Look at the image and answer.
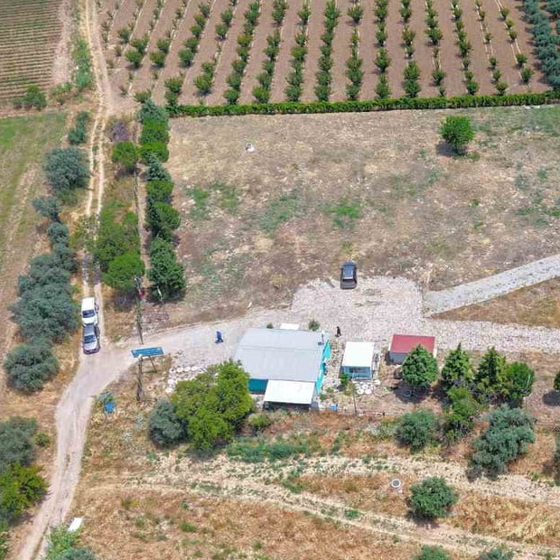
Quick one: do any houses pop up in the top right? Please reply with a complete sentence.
No, the scene shows no house in the top right.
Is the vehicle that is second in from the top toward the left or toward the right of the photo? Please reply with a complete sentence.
You can find the vehicle that is second in from the top on the left side of the picture.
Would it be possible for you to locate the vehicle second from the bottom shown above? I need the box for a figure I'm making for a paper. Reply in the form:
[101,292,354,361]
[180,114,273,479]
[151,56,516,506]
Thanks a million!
[78,291,98,325]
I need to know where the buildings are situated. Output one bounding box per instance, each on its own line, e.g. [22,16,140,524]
[229,322,334,417]
[390,331,437,365]
[341,341,378,380]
